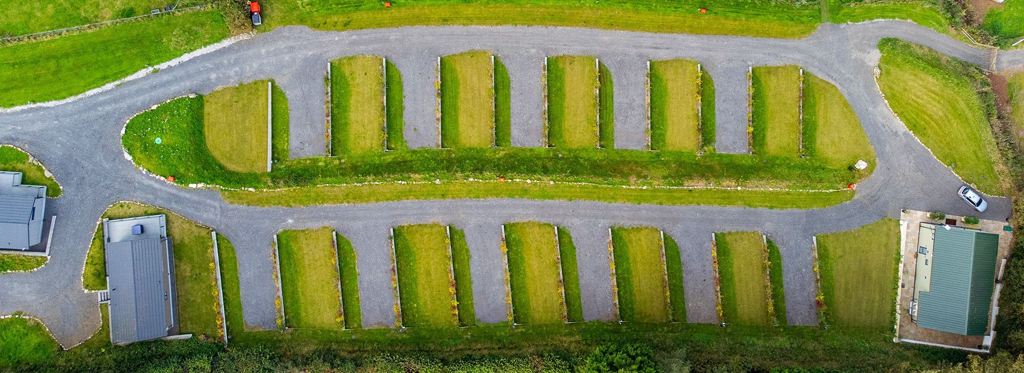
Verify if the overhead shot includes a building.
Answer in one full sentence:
Yes, there is a building in the image.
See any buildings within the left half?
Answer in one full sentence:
Yes, within the left half there is a building.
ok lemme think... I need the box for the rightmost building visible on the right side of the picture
[910,223,999,336]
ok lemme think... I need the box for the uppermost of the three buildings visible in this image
[0,172,48,250]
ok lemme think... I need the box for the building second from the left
[100,214,176,344]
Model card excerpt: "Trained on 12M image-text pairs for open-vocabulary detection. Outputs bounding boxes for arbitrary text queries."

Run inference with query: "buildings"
[100,214,176,344]
[910,223,999,336]
[0,172,48,250]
